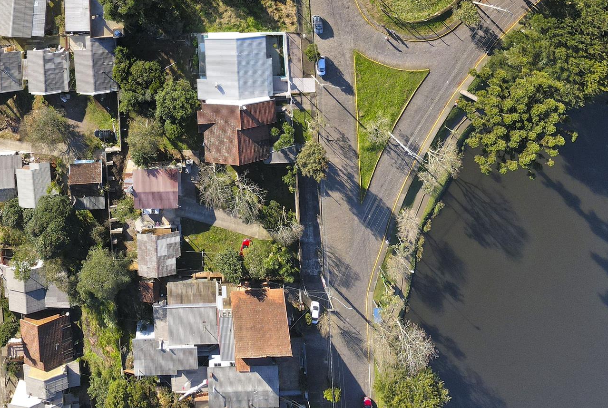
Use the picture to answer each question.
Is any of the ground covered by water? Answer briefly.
Yes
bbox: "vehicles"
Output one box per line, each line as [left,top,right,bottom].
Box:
[313,14,325,36]
[94,131,114,143]
[316,55,327,76]
[309,302,321,327]
[363,398,374,408]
